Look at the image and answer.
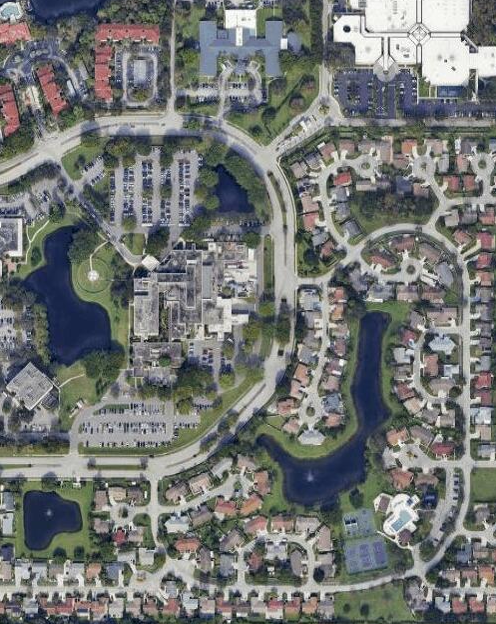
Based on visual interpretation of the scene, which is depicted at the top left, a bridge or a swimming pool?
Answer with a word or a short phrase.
swimming pool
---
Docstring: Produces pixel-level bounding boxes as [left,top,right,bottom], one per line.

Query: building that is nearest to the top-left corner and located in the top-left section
[0,22,29,43]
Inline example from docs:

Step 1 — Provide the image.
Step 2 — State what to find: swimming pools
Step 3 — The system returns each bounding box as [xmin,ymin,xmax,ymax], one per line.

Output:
[375,494,420,536]
[0,2,21,21]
